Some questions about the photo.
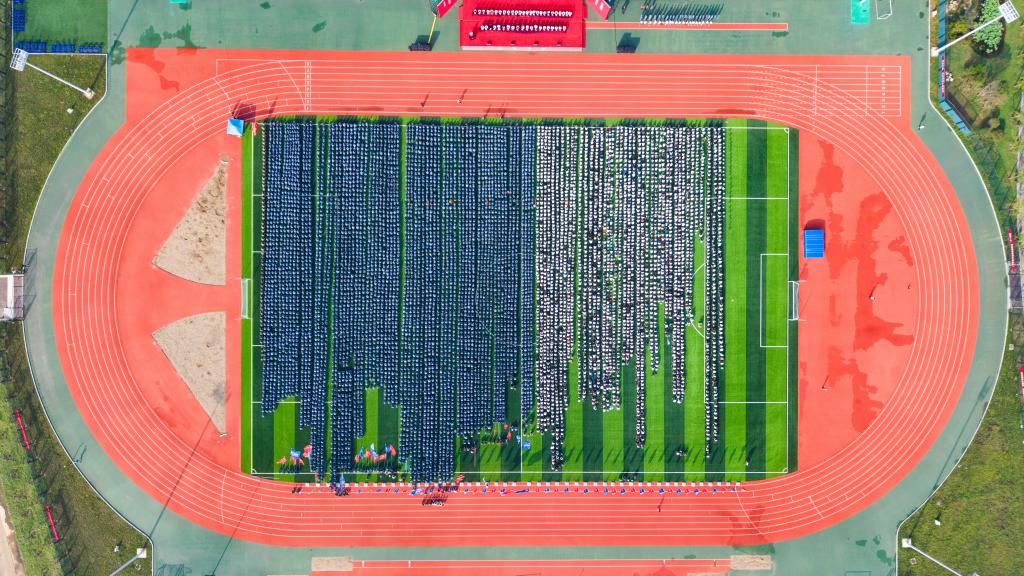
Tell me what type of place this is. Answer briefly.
sports ground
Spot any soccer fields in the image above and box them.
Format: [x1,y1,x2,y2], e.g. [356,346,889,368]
[241,114,799,483]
